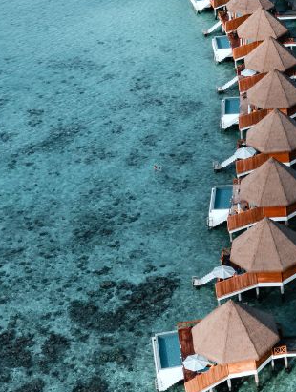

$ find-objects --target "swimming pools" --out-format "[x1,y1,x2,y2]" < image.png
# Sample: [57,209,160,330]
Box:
[190,0,208,9]
[211,33,231,55]
[220,95,240,123]
[152,330,183,381]
[208,184,231,219]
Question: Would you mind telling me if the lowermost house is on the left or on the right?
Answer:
right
